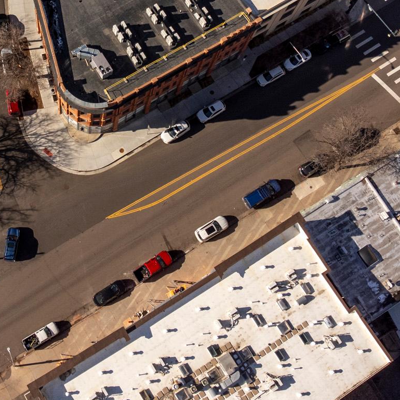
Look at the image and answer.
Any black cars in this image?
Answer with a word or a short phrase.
Yes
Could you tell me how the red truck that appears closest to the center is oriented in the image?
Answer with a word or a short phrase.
diagonally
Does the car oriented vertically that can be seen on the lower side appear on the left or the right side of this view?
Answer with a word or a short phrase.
left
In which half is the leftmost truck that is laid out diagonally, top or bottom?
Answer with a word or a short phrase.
bottom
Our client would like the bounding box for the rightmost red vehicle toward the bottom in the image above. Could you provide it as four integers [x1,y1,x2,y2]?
[131,248,175,286]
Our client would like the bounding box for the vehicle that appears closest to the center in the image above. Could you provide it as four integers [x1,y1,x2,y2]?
[194,215,230,244]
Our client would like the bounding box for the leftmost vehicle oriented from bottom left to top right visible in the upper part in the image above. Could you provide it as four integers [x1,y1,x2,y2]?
[159,117,193,146]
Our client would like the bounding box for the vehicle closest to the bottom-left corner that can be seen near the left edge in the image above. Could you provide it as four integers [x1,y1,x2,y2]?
[17,318,63,357]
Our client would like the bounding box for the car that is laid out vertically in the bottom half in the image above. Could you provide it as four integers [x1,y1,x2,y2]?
[2,224,22,266]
